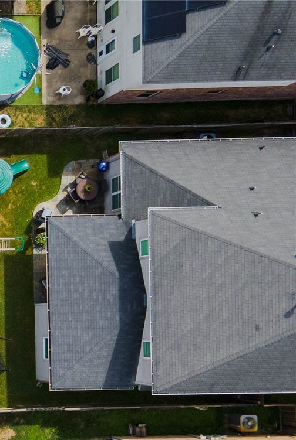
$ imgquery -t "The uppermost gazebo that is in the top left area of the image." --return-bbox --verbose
[45,45,69,68]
